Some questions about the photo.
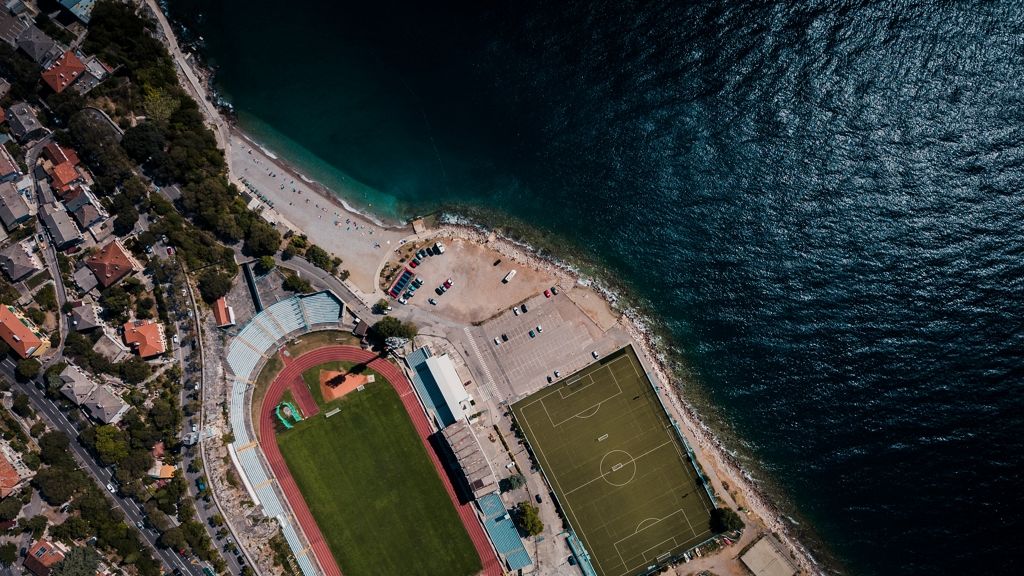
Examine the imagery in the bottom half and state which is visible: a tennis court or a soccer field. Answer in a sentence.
It is a soccer field that can be seen in the bottom half.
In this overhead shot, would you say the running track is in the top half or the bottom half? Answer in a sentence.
The bottom half of the photo is where the running track is.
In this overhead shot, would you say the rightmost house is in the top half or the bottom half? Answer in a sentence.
Seen from above, the rightmost house lies in the bottom half of the view.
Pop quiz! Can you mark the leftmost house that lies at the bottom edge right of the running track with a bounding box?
[566,532,597,576]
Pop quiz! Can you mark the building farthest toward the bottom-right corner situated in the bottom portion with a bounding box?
[739,535,800,576]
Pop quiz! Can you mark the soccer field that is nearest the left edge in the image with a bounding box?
[274,361,485,576]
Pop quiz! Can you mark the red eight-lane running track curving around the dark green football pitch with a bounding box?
[259,345,507,576]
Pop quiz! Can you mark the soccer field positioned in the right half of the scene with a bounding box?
[513,346,718,576]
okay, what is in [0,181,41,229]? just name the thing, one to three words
house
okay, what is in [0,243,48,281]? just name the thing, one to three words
house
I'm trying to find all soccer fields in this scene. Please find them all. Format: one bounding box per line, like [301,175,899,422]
[513,346,718,576]
[274,361,485,576]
